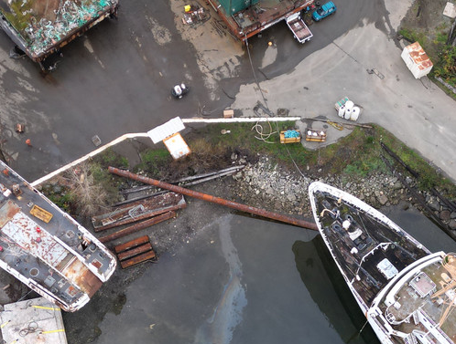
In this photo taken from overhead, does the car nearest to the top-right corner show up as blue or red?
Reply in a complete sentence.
The car nearest to the top-right corner is blue.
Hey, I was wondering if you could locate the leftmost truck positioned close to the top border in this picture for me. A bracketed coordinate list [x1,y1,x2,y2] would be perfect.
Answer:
[288,13,313,43]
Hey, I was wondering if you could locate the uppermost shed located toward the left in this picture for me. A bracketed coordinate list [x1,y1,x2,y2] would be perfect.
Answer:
[147,117,192,162]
